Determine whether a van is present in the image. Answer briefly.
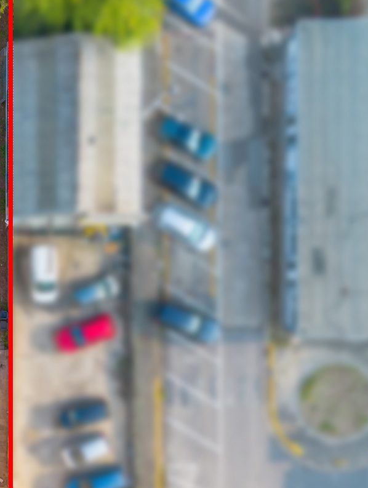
Yes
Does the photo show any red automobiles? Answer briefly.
Yes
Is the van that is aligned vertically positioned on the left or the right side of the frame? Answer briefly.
left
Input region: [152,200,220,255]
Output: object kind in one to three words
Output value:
car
